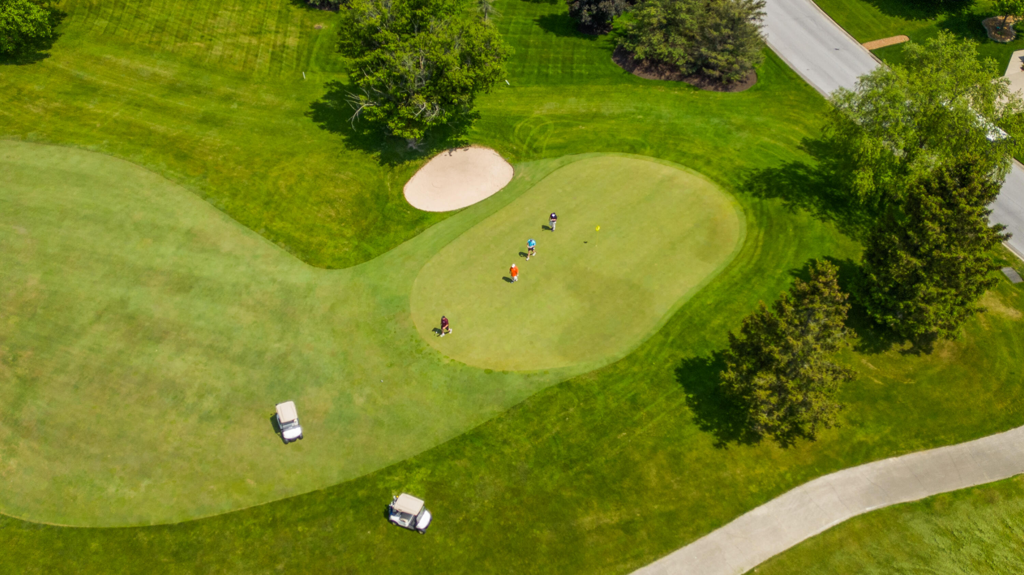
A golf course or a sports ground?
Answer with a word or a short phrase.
golf course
